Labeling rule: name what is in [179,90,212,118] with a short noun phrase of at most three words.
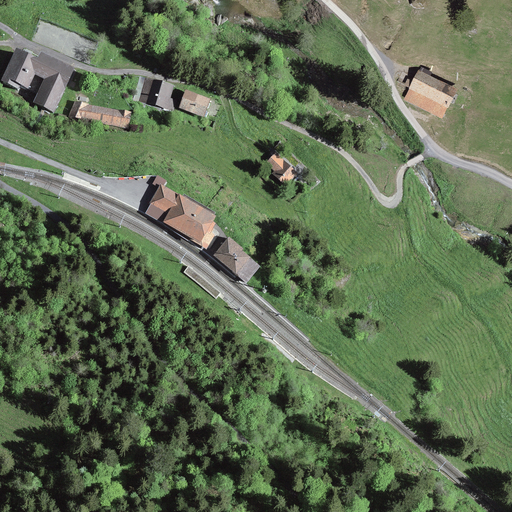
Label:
house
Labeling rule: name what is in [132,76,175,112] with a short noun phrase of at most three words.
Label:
house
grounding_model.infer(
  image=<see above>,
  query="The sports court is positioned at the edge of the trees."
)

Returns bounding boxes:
[32,20,96,64]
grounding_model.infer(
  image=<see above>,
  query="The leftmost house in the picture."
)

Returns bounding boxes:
[3,48,74,114]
